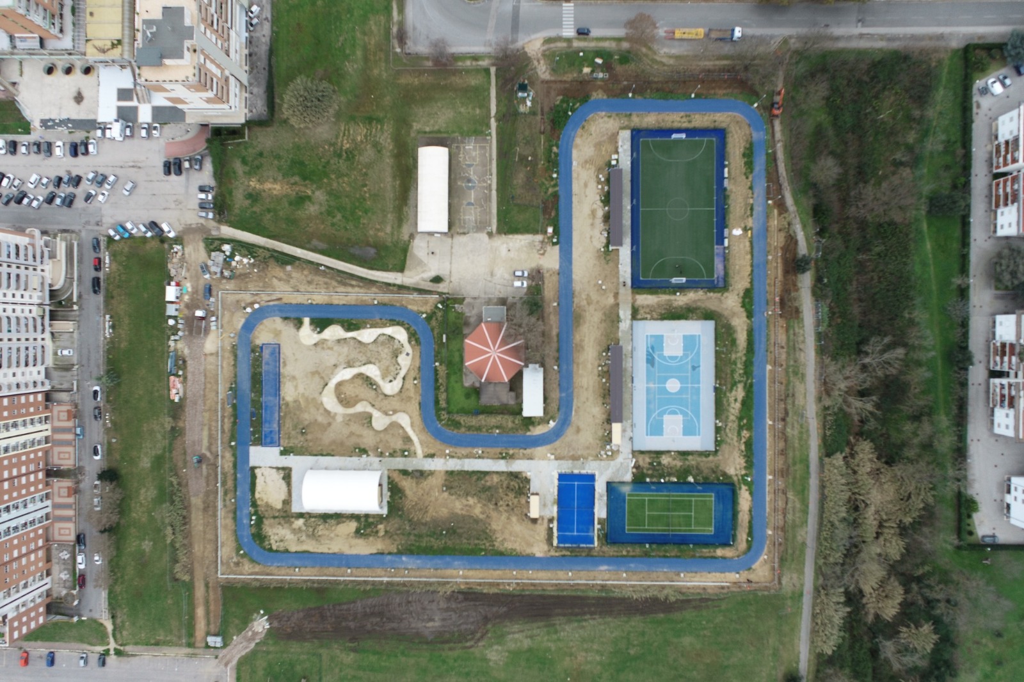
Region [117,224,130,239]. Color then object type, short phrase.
blue vehicle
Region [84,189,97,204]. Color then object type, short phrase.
gray vehicle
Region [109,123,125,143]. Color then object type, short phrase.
white vehicle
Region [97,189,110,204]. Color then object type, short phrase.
white vehicle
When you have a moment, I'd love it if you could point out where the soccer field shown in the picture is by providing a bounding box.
[632,130,726,288]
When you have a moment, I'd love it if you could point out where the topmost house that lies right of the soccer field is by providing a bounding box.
[990,101,1024,172]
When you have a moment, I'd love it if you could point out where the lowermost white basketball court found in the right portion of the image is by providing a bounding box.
[633,321,715,451]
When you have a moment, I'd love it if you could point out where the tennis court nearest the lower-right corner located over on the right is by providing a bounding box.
[607,482,734,544]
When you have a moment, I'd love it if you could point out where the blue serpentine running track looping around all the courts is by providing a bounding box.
[236,99,766,572]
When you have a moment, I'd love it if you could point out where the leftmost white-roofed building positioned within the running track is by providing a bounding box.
[300,469,386,513]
